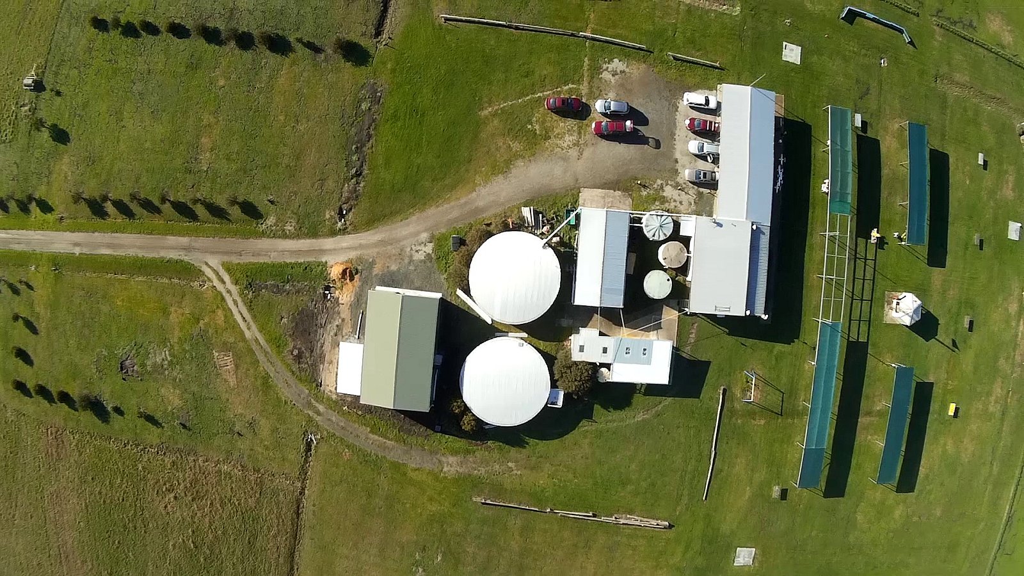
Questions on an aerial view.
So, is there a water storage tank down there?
Yes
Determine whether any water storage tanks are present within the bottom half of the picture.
Yes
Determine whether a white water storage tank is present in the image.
Yes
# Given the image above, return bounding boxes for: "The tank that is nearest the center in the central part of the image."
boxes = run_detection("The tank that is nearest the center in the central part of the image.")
[469,231,561,323]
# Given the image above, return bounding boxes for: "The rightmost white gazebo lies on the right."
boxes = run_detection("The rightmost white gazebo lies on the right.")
[884,292,922,326]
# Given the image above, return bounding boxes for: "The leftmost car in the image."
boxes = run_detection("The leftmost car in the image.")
[546,95,582,111]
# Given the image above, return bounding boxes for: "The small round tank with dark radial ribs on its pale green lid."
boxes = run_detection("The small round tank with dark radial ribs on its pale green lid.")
[640,210,673,242]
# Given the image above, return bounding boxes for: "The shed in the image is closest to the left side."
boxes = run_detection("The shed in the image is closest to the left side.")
[337,288,442,412]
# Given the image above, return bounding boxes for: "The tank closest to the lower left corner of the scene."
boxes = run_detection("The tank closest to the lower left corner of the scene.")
[460,336,551,427]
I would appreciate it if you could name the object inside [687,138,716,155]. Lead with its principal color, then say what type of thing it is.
white vehicle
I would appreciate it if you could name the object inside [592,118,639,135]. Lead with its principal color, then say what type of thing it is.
red vehicle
